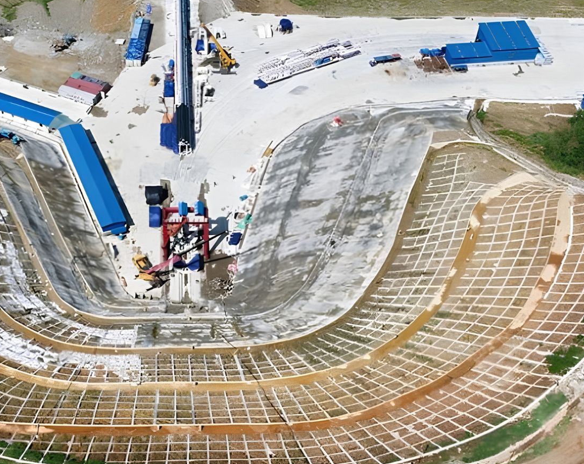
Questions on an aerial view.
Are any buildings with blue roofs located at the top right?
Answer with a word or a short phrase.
Yes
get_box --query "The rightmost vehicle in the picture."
[369,49,406,64]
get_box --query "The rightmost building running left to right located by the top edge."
[443,17,542,66]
